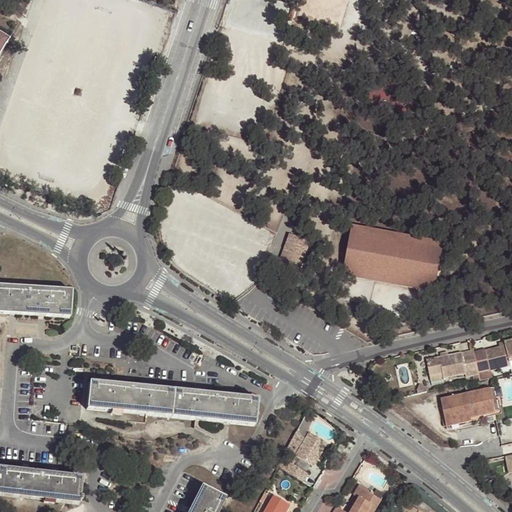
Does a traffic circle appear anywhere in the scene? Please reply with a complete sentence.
Yes, there is a traffic circle in the image.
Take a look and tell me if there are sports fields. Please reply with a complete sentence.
Yes, the image includes a sports field.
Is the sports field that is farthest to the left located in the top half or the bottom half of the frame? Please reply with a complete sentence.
The sports field that is farthest to the left sits in the top half of the picture.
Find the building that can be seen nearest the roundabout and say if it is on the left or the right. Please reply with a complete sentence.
The building that can be seen nearest the roundabout appears in the left half of the scene.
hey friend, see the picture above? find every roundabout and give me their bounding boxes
[88,236,138,286]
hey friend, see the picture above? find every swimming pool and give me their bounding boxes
[398,363,413,388]
[498,378,512,407]
[280,479,290,490]
[354,461,390,491]
[310,414,335,444]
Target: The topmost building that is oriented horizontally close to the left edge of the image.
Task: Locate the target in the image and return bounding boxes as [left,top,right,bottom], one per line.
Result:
[0,282,74,319]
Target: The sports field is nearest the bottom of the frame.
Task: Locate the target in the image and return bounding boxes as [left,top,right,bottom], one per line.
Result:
[159,190,276,297]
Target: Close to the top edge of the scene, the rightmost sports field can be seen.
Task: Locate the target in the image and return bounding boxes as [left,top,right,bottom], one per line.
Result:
[192,0,285,132]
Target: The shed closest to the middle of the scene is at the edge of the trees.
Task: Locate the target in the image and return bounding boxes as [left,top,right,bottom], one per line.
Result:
[282,233,309,265]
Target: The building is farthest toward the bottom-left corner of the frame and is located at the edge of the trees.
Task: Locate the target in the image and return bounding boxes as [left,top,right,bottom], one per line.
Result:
[0,464,85,506]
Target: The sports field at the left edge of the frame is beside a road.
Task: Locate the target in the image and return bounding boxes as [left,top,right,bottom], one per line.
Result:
[0,0,174,204]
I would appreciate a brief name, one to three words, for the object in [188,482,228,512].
building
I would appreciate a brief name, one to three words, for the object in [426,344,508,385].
house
